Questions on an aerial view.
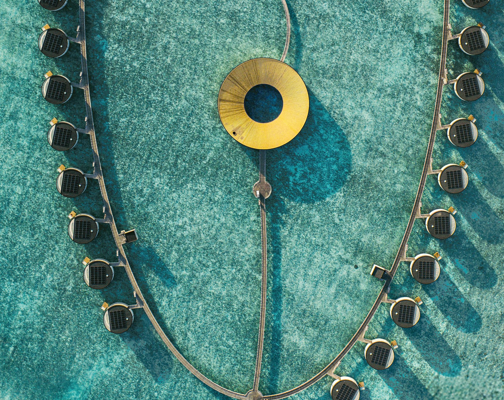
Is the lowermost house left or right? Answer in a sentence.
You can find the lowermost house on the right side of the picture.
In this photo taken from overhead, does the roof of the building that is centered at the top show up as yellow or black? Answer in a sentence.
The color of the roof of the building that is centered at the top is yellow.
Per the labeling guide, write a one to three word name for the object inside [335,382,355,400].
solar array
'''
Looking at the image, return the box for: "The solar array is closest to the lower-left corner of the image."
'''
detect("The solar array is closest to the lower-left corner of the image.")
[111,309,126,327]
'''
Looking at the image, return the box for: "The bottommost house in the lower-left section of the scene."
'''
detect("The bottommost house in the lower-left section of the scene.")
[102,299,134,332]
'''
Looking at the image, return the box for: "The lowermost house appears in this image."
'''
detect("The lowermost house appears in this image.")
[331,375,366,400]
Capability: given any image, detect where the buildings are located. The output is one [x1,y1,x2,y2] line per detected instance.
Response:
[82,254,114,288]
[424,203,457,237]
[102,299,134,332]
[39,0,68,9]
[409,250,442,283]
[458,20,488,53]
[39,22,69,57]
[437,158,467,192]
[446,112,477,146]
[217,58,310,149]
[68,208,99,243]
[331,375,366,400]
[120,229,138,244]
[43,68,73,103]
[49,117,79,150]
[453,66,484,99]
[461,0,488,8]
[364,336,399,369]
[371,265,390,281]
[57,162,88,195]
[390,295,423,327]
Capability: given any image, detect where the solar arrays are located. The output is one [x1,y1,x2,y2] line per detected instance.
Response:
[49,79,65,98]
[454,121,470,141]
[418,259,432,277]
[54,126,71,146]
[335,382,355,400]
[398,303,414,321]
[445,169,461,187]
[76,218,91,237]
[64,172,80,191]
[465,29,483,50]
[433,214,447,231]
[111,309,126,327]
[44,32,62,52]
[371,343,388,364]
[461,75,479,95]
[91,265,105,282]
